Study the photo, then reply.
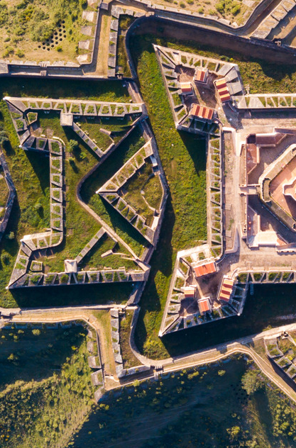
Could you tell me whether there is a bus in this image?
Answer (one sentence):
No, I can't see a single bus in this photo.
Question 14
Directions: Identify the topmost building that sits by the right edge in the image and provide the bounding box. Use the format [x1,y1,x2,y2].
[246,128,296,175]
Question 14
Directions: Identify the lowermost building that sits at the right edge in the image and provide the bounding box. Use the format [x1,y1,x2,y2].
[246,206,295,251]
